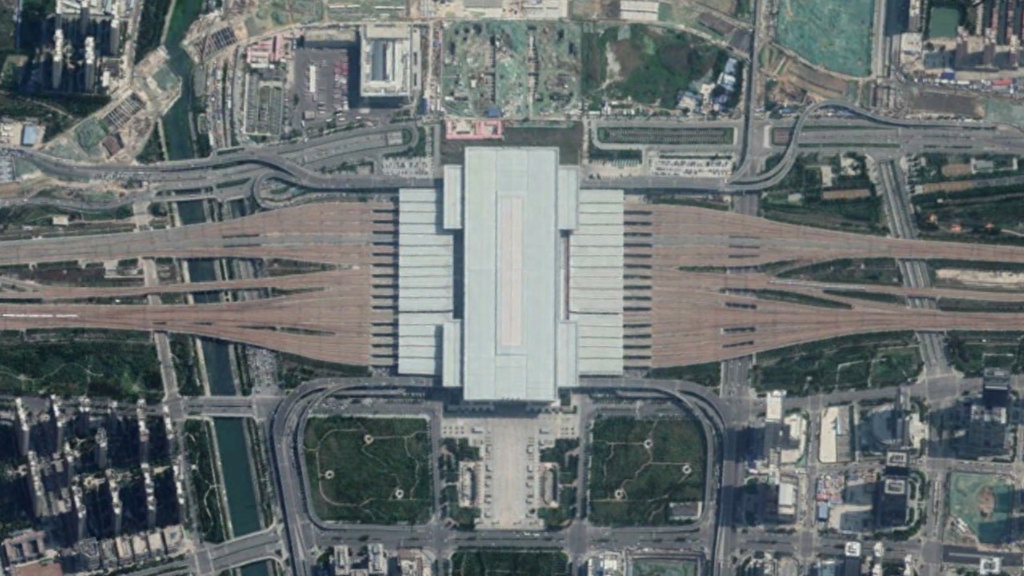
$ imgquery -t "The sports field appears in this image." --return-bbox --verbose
[929,7,958,37]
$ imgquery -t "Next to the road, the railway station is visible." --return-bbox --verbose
[371,147,652,415]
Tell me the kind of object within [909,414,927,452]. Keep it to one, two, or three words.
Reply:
building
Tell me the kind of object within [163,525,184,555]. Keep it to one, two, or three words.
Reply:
building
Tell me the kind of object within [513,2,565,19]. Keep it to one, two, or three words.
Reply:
shed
